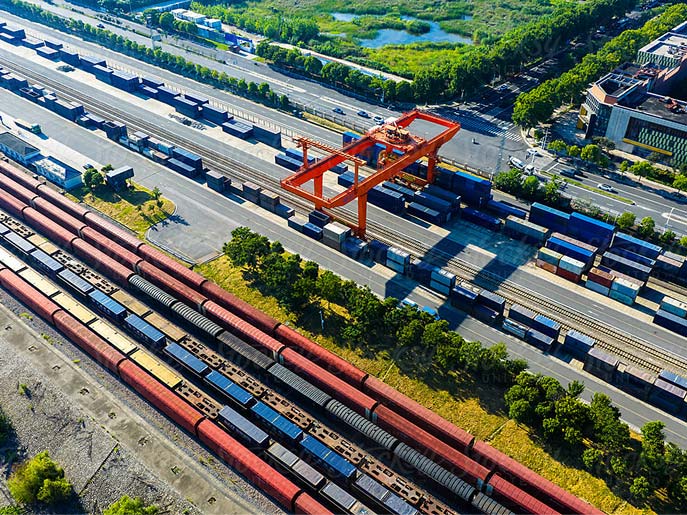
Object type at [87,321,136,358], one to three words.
rail car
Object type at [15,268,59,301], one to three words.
rail car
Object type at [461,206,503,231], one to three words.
shipping container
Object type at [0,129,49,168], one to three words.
house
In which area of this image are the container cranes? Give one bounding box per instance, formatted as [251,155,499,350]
[282,108,459,242]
